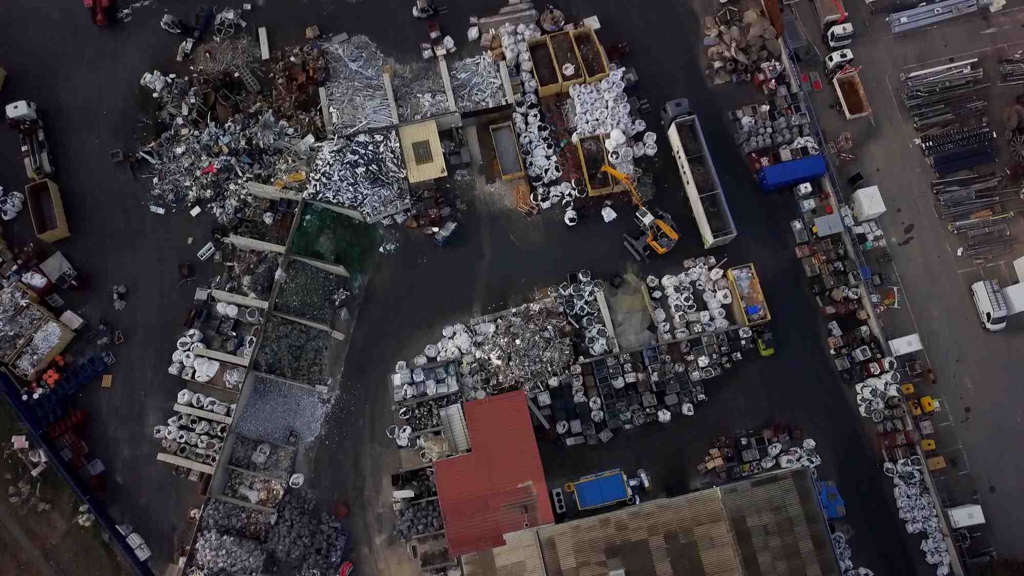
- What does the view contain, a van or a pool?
van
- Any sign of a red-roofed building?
Yes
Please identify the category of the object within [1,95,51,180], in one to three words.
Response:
truck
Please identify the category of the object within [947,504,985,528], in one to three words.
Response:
trailer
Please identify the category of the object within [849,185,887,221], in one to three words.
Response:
building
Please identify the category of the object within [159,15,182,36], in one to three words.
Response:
work vehicle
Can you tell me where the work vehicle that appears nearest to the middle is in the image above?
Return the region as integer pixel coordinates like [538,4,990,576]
[595,165,691,262]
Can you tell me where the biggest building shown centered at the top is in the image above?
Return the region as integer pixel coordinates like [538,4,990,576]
[399,119,447,191]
